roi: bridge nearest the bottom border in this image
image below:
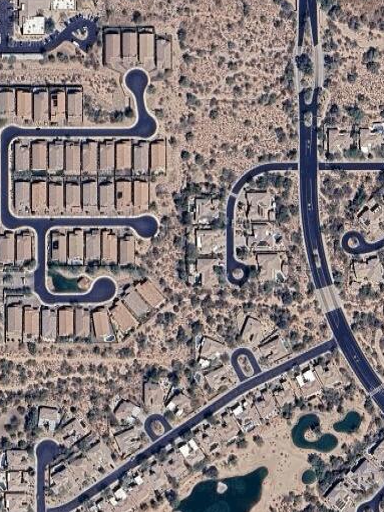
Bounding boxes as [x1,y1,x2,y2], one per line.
[315,285,342,318]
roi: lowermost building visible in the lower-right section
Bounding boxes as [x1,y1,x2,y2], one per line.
[325,481,358,512]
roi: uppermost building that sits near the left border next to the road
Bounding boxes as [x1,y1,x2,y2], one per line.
[19,0,75,34]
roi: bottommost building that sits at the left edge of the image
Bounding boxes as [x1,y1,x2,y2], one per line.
[5,493,30,512]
